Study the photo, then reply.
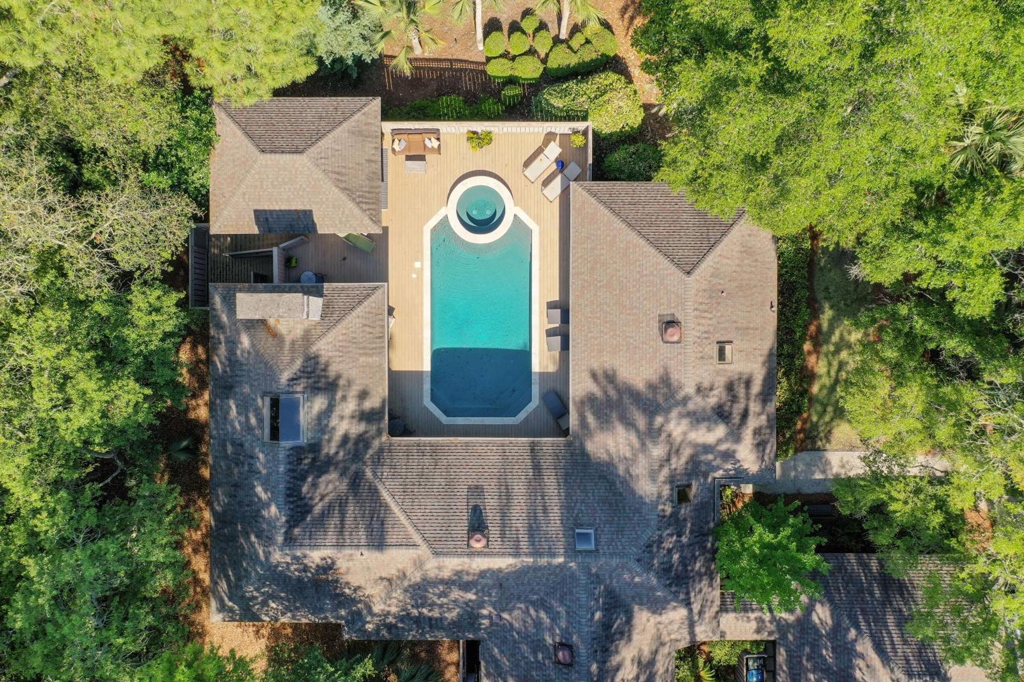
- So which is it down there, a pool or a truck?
pool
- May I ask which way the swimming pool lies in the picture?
up and down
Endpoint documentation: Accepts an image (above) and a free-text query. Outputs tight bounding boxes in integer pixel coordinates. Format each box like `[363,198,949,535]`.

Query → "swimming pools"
[424,176,539,424]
